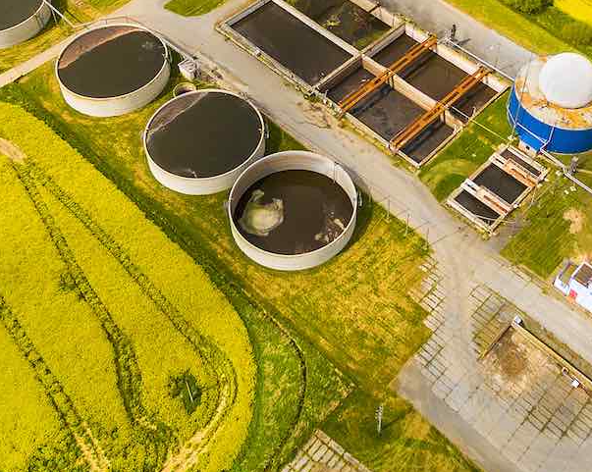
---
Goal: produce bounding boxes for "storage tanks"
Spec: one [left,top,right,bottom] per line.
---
[228,151,362,274]
[144,89,270,197]
[0,0,52,51]
[55,23,172,116]
[509,54,592,157]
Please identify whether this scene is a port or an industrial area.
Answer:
industrial area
